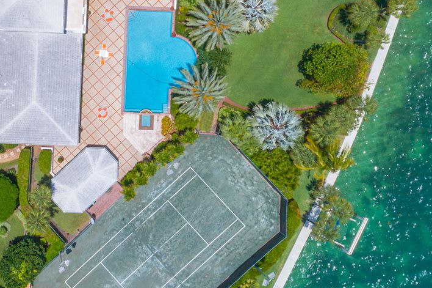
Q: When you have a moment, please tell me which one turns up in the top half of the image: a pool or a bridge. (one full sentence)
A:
There is a pool in the top half of the image.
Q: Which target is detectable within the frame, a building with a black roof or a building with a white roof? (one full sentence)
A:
Looking from above, you can make out a building with a white roof.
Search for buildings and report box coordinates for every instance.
[51,146,119,213]
[0,0,86,144]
